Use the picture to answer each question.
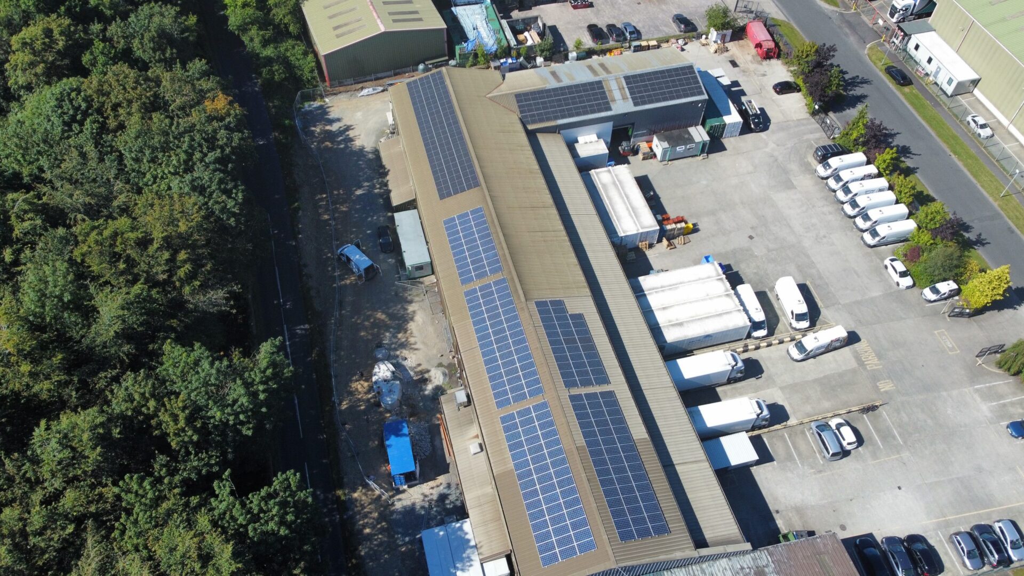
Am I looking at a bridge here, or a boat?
boat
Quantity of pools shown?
none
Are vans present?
Yes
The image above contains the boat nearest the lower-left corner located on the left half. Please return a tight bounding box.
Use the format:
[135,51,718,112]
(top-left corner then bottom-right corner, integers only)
[372,357,407,410]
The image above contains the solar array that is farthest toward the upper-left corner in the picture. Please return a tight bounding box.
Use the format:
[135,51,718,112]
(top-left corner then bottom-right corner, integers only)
[405,66,481,196]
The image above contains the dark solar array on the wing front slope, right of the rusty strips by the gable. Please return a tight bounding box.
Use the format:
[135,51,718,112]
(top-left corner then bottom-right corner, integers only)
[629,65,706,108]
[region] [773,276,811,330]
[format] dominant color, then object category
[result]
white van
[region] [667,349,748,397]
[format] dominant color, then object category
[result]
white truck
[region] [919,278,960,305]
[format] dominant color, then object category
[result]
white vehicle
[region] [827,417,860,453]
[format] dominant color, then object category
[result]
white car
